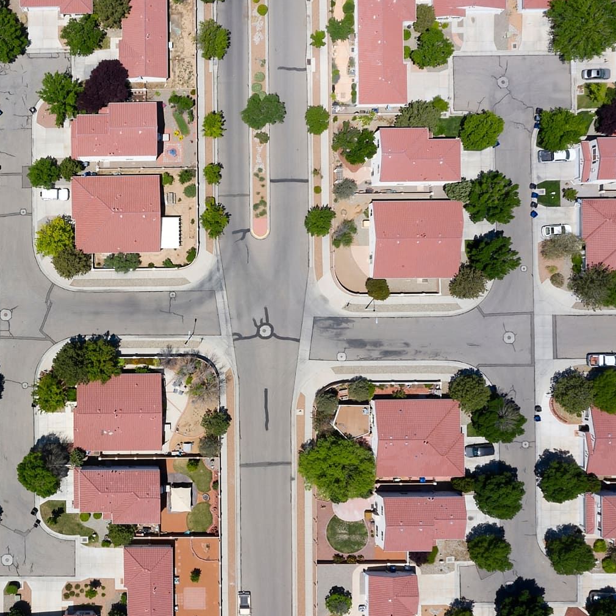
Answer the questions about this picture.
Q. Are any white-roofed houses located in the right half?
No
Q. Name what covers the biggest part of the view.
paved ground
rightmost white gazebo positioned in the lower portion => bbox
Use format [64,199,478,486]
[170,487,192,511]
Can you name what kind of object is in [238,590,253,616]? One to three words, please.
vehicle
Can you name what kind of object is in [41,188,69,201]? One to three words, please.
vehicle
